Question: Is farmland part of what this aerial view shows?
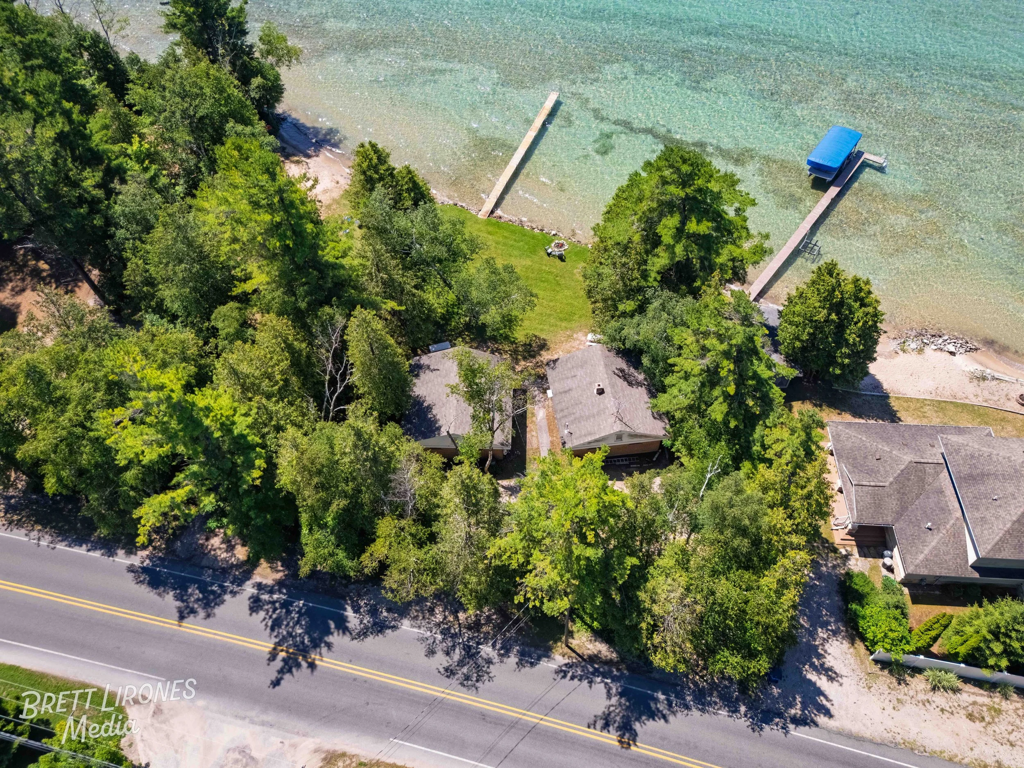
No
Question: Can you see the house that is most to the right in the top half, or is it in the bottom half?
bottom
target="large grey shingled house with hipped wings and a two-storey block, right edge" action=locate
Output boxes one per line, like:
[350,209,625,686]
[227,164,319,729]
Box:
[822,420,1024,590]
